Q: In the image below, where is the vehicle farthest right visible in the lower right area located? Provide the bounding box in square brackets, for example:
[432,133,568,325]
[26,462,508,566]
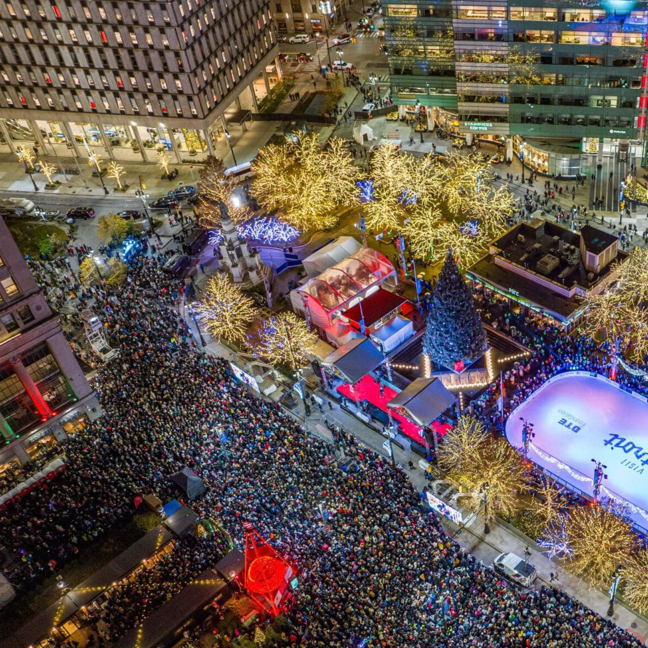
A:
[489,547,543,588]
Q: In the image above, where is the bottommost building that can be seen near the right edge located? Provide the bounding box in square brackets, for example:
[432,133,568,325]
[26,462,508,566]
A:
[467,214,630,328]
